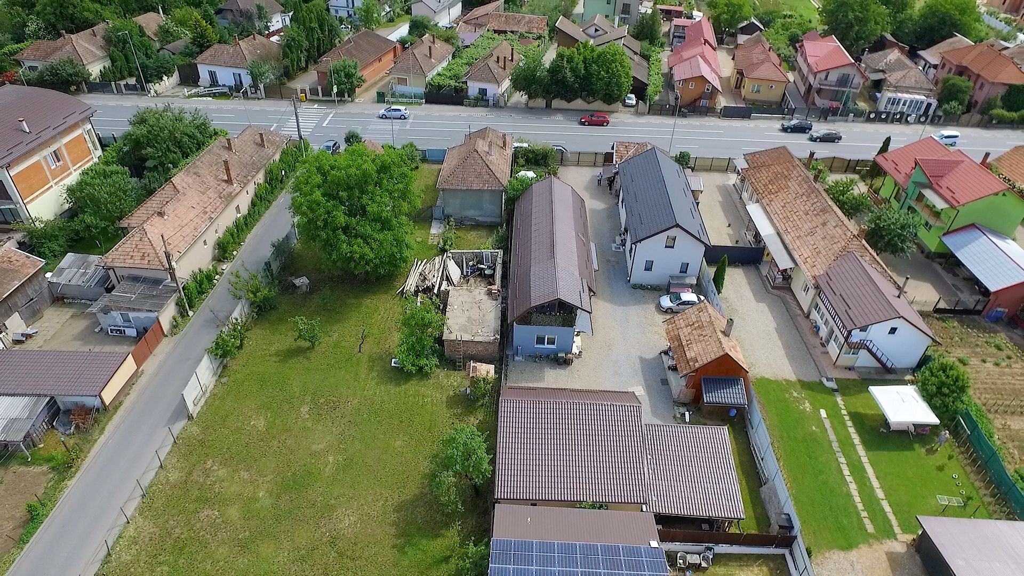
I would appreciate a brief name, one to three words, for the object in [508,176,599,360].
house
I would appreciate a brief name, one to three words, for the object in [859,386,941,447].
gazebo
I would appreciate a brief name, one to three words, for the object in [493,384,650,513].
barn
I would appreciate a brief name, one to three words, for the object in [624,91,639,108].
car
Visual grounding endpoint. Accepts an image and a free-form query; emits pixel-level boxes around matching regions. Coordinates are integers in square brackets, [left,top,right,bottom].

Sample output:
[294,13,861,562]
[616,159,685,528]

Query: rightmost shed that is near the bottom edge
[911,516,1024,576]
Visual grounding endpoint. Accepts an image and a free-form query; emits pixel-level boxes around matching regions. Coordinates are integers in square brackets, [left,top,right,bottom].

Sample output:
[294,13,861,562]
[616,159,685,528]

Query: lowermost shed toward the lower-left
[0,396,57,455]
